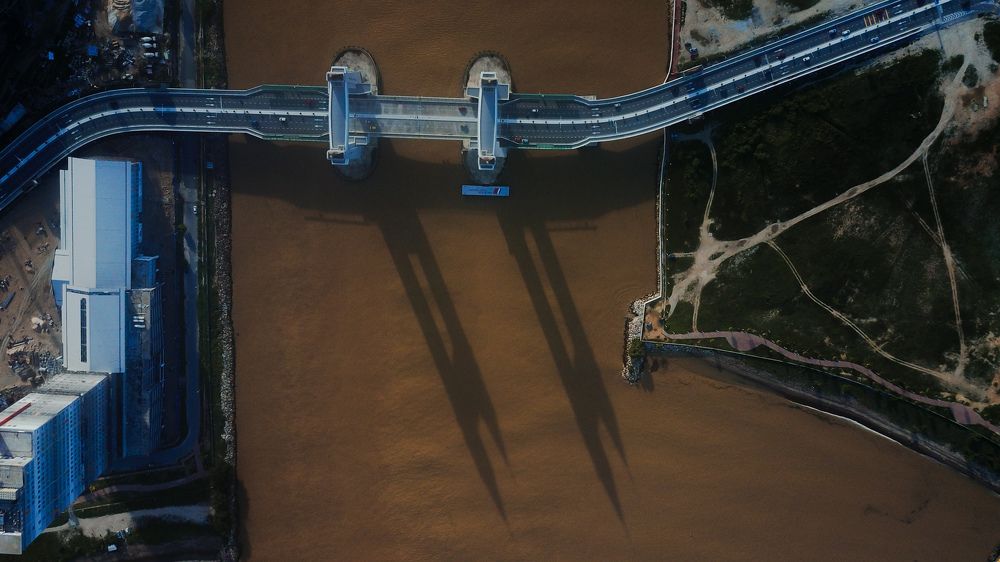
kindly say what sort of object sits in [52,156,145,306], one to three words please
building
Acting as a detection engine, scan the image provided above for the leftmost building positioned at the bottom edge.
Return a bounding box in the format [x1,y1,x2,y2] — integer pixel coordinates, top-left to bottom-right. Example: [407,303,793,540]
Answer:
[0,364,115,554]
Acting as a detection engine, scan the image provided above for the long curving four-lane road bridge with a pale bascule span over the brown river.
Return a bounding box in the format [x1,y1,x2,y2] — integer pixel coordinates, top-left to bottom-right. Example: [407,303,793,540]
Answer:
[0,0,967,211]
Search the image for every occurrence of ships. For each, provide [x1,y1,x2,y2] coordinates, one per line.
[462,184,509,196]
